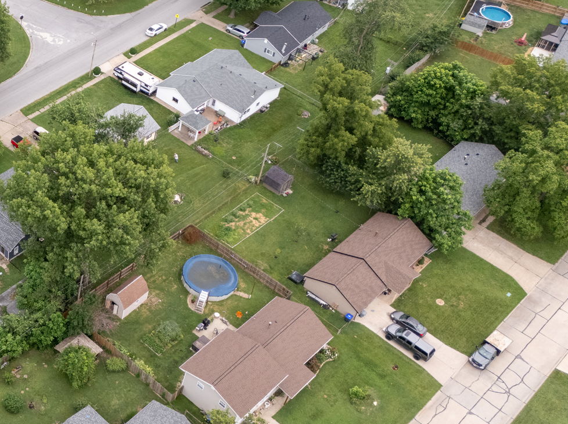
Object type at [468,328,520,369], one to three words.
truck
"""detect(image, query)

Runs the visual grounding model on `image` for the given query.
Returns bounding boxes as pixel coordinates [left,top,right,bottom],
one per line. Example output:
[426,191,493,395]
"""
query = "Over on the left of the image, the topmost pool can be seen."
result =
[181,254,239,304]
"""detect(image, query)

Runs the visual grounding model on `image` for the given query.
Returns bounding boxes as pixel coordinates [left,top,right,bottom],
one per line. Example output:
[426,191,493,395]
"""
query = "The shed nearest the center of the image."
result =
[261,168,294,199]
